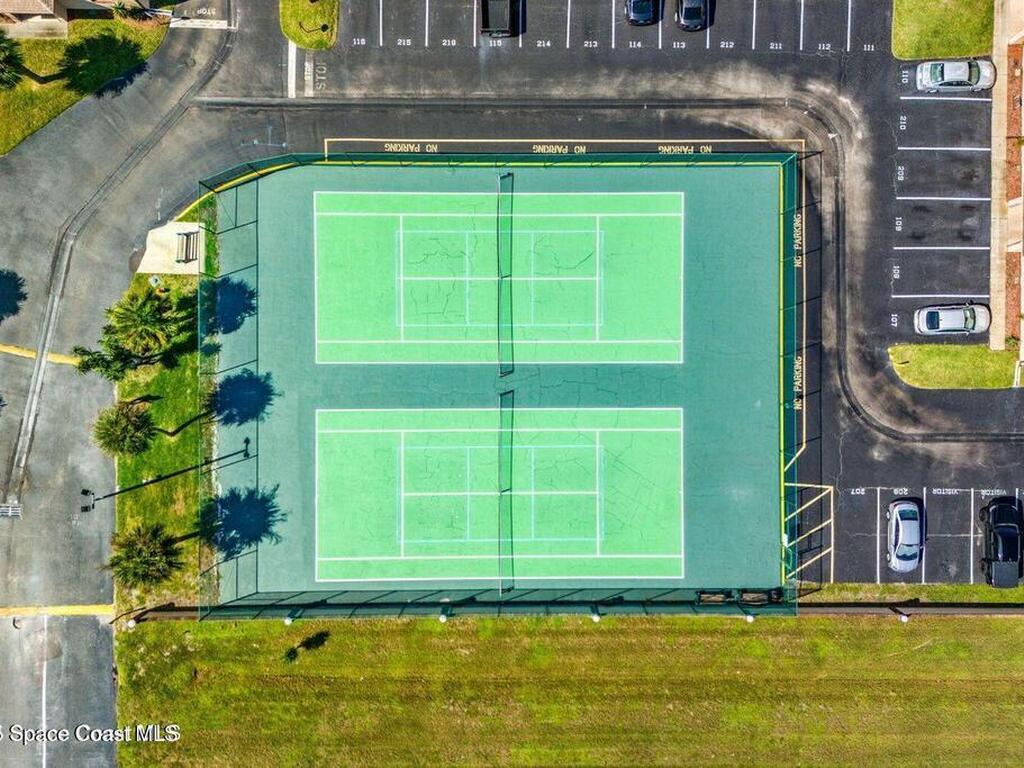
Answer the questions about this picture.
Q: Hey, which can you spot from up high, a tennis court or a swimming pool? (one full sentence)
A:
The image shows a tennis court.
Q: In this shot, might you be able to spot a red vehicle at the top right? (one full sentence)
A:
No, no red vehicle is visible at the top right.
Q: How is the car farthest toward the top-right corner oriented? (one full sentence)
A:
In this picture, the car farthest toward the top-right corner is oriented from left to right.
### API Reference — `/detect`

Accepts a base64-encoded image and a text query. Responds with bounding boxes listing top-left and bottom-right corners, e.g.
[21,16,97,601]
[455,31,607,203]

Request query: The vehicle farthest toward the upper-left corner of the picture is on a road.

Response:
[479,0,513,39]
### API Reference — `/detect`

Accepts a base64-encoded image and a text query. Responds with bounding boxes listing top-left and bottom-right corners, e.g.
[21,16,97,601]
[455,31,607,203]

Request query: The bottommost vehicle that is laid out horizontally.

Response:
[913,301,989,337]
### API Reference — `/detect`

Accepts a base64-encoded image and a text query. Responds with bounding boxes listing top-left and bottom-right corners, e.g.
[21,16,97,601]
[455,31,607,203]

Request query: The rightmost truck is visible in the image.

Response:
[977,499,1024,590]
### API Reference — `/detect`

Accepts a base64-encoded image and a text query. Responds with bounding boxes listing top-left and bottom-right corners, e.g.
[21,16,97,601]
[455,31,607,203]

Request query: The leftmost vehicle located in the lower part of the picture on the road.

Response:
[885,500,925,571]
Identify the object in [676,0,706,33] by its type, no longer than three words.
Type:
car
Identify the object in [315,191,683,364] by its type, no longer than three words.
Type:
tennis court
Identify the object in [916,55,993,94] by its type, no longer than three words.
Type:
car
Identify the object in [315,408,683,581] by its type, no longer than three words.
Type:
tennis court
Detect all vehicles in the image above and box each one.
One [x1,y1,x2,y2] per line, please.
[479,0,513,39]
[624,0,655,27]
[916,55,993,94]
[885,500,925,571]
[676,0,706,33]
[913,301,989,337]
[977,499,1024,590]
